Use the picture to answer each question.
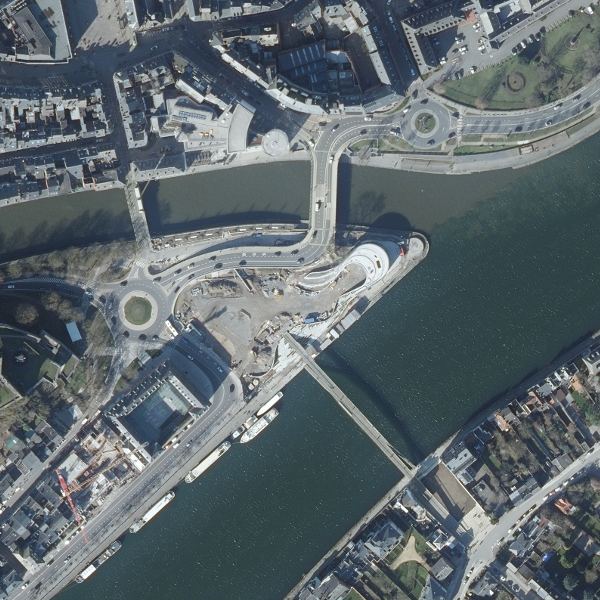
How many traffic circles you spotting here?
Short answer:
2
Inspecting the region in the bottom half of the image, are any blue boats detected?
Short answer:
No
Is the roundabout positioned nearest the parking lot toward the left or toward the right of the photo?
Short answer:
right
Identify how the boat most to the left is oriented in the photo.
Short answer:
diagonally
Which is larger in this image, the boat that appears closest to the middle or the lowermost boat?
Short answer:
the lowermost boat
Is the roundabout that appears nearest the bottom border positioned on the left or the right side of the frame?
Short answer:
left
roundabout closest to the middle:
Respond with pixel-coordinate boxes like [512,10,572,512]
[105,278,172,343]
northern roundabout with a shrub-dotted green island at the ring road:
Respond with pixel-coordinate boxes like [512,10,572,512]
[400,98,450,148]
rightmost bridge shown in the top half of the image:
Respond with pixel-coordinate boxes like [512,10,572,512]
[309,156,338,228]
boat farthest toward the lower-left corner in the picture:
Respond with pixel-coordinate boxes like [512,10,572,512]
[76,543,122,583]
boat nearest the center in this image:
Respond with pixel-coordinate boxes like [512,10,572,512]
[256,391,284,415]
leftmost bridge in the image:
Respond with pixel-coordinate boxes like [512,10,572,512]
[125,179,152,248]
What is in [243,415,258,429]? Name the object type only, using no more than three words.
boat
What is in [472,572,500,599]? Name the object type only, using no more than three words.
house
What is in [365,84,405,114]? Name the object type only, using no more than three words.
building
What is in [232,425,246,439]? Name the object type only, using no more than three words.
boat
